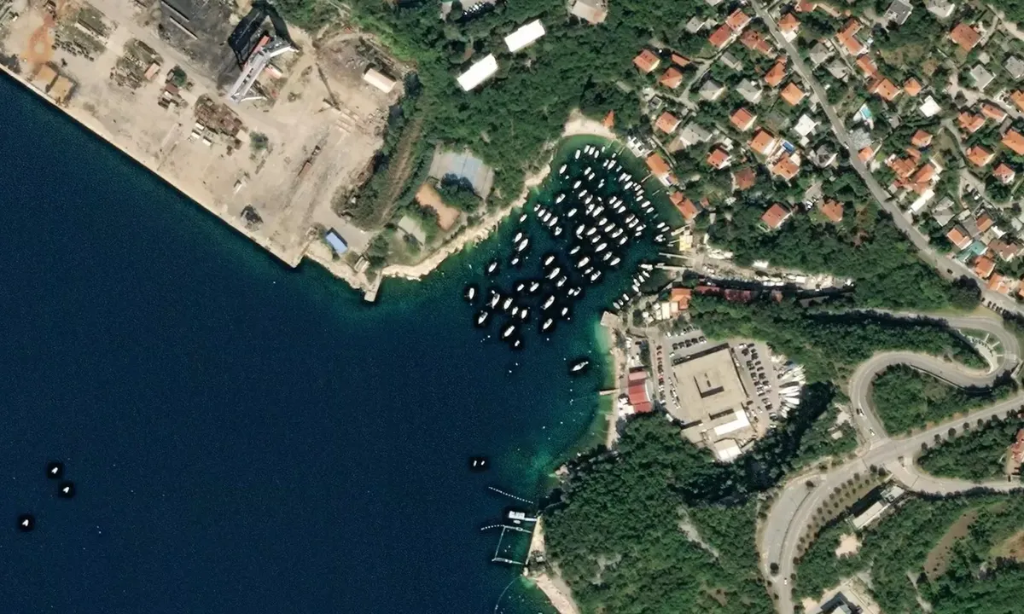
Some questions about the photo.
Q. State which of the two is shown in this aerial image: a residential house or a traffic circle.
residential house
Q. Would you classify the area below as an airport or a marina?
marina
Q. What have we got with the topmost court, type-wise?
tennis court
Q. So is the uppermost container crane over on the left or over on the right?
left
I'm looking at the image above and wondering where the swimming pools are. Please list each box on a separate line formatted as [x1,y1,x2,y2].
[780,138,797,154]
[858,104,874,121]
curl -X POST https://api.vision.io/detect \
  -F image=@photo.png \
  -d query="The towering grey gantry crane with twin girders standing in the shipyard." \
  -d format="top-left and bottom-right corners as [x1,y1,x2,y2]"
[227,32,303,103]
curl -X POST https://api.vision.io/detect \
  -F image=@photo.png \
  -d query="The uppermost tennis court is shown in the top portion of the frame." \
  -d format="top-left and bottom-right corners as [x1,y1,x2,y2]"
[427,150,494,201]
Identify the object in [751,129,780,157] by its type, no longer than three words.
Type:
house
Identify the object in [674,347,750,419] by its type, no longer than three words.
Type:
building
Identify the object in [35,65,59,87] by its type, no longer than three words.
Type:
shed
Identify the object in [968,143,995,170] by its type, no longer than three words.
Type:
house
